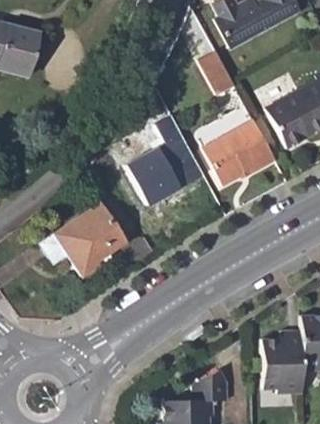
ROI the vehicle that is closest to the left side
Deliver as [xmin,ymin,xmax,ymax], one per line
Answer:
[116,295,142,312]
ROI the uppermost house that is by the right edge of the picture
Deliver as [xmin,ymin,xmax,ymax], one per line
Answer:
[204,0,308,50]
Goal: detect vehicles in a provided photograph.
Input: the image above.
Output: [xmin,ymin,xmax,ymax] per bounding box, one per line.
[278,218,300,234]
[182,325,204,344]
[211,315,232,330]
[116,295,142,312]
[269,198,291,215]
[252,274,275,292]
[144,272,166,290]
